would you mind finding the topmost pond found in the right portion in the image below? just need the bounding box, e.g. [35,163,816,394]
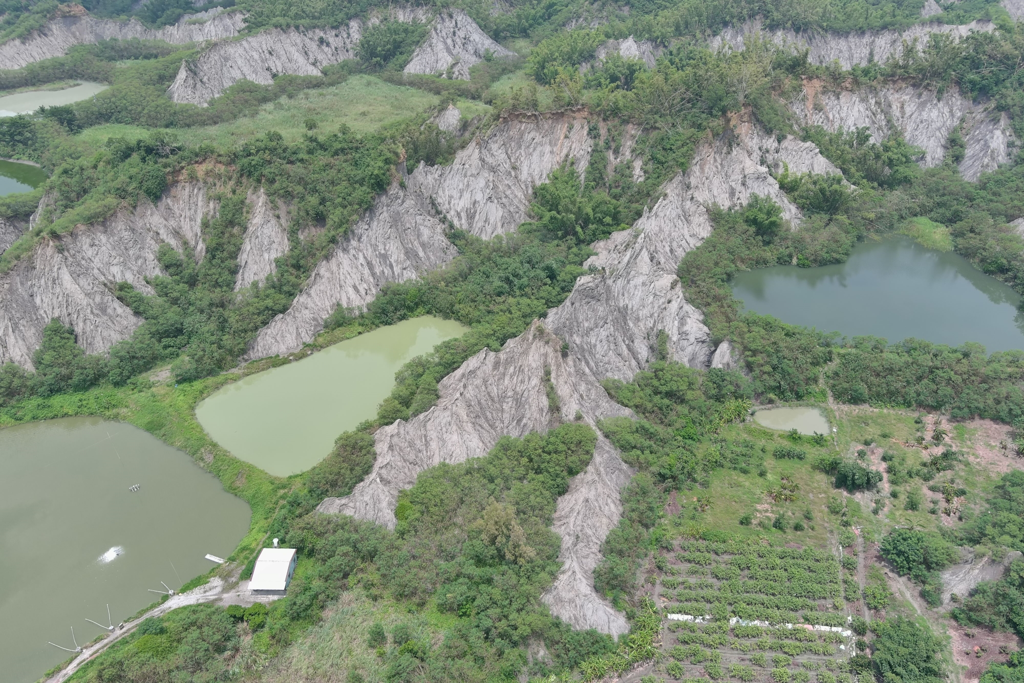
[731,233,1024,363]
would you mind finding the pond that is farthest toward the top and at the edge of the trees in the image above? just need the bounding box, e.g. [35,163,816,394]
[0,82,109,118]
